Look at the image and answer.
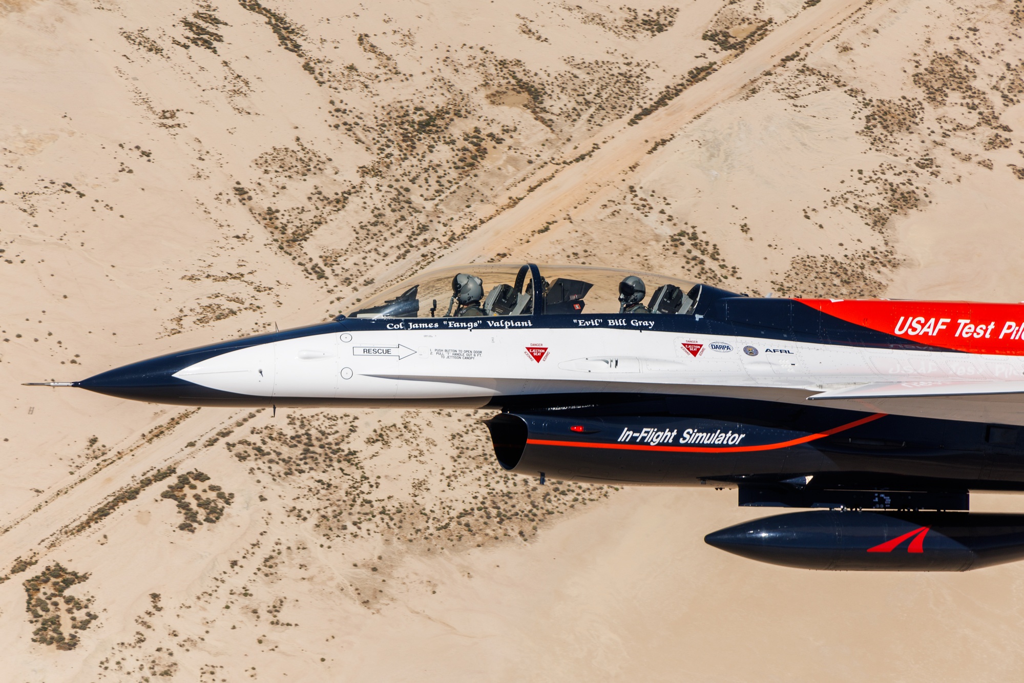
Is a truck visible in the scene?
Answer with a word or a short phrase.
No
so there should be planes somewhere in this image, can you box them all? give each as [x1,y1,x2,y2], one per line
[23,262,1024,513]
